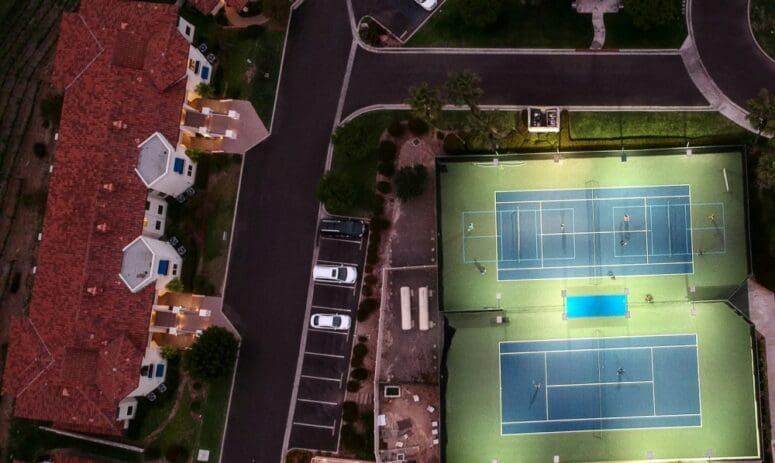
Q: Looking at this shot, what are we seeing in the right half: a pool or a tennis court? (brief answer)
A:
tennis court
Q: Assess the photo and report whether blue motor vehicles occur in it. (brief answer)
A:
No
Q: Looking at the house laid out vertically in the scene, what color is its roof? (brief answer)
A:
red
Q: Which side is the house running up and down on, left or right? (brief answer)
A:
left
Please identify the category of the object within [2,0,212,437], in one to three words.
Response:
house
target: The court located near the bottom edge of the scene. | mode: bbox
[444,303,758,463]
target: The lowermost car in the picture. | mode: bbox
[310,312,352,331]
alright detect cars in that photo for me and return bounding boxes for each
[310,312,352,331]
[414,0,439,12]
[313,263,359,284]
[320,219,368,241]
